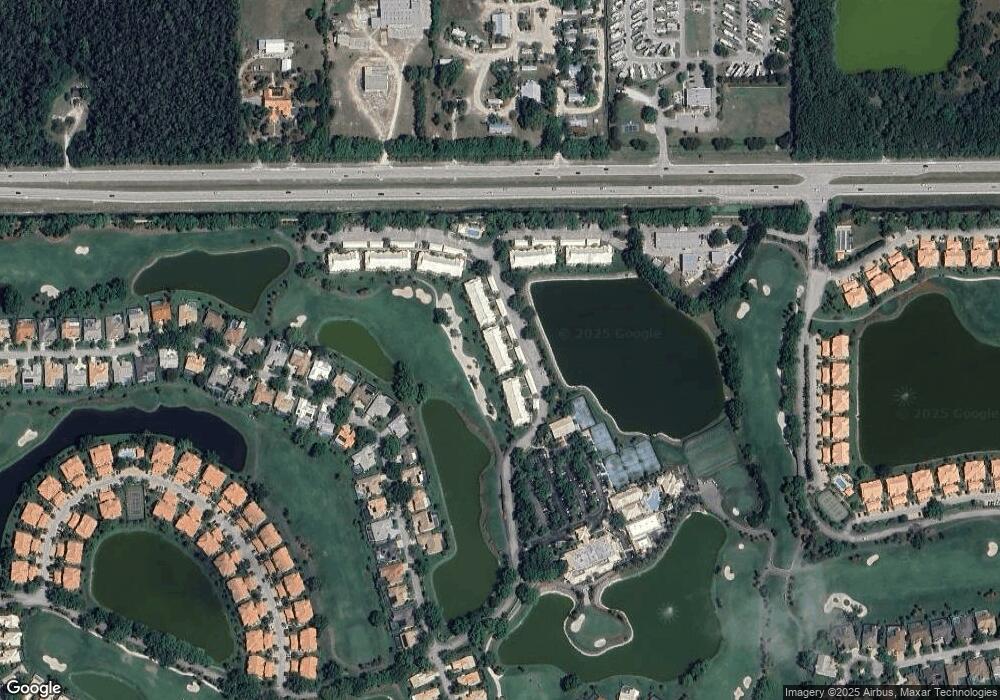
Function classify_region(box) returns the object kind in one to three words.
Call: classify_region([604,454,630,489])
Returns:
tennis court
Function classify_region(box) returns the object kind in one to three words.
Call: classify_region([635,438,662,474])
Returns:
tennis court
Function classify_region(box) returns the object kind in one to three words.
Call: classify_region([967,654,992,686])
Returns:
house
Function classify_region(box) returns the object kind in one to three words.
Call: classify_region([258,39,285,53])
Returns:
barn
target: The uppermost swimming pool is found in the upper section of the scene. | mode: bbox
[458,223,484,239]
